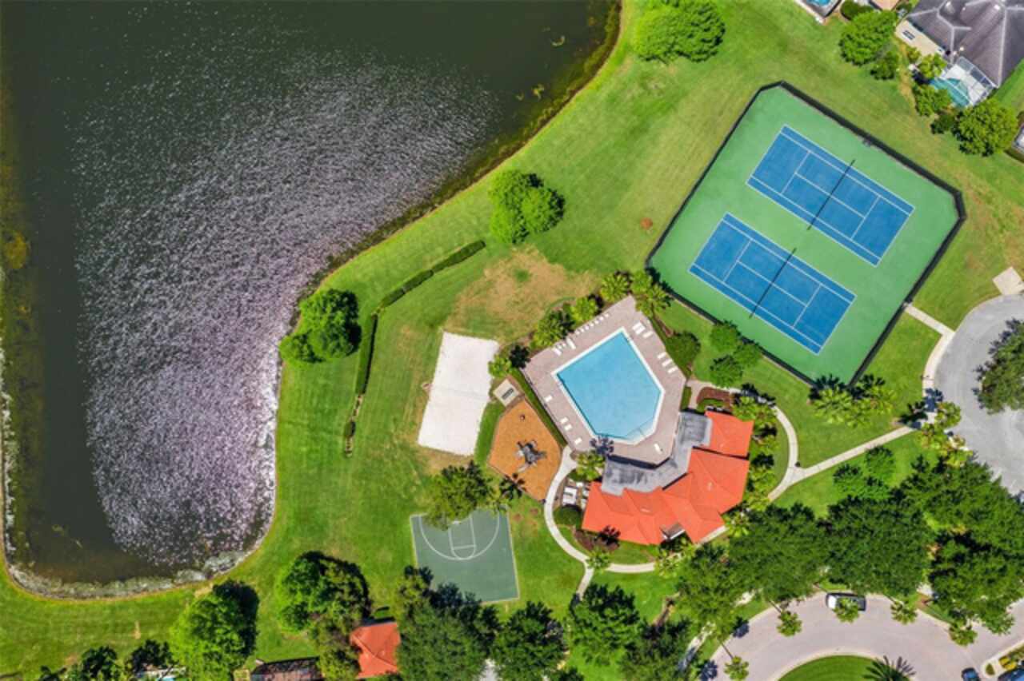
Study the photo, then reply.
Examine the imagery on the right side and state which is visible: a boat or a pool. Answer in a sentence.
The feature located on the right side is a pool.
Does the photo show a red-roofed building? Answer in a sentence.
Yes, there is a red-roofed building in the image.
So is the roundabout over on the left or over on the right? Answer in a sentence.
The roundabout is on the right side of the image.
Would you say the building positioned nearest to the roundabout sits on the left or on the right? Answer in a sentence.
You can find the building positioned nearest to the roundabout on the right side of the picture.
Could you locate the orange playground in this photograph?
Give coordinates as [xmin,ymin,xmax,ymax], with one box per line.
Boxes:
[488,400,562,501]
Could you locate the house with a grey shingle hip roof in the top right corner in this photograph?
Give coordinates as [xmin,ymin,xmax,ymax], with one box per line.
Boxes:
[901,0,1024,88]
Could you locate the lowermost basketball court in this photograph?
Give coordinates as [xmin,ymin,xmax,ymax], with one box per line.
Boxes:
[410,508,519,609]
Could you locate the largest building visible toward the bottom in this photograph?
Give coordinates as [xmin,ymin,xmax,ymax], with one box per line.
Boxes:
[582,411,754,552]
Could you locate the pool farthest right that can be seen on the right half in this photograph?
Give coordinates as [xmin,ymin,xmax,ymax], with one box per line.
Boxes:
[932,74,971,106]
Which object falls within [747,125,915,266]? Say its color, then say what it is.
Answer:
blue tennis court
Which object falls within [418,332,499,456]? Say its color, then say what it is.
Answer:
white sports court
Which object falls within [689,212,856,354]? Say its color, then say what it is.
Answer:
blue tennis court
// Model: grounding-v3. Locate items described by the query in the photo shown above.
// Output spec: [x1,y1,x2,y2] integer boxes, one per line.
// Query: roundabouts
[706,589,1024,681]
